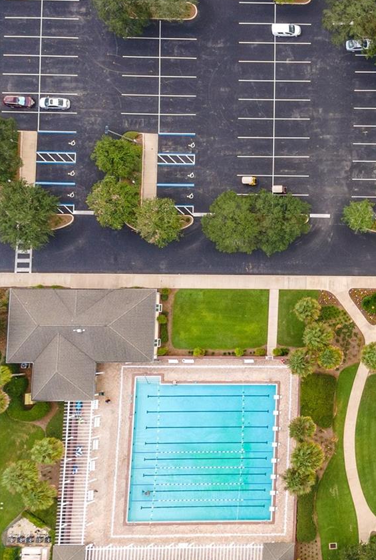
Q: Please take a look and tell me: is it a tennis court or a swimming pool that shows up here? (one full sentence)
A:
The one in the frame is a swimming pool.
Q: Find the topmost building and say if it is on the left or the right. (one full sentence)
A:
The topmost building sits on the left side.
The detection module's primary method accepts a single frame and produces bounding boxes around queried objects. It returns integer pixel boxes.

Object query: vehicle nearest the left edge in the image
[4,95,35,109]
